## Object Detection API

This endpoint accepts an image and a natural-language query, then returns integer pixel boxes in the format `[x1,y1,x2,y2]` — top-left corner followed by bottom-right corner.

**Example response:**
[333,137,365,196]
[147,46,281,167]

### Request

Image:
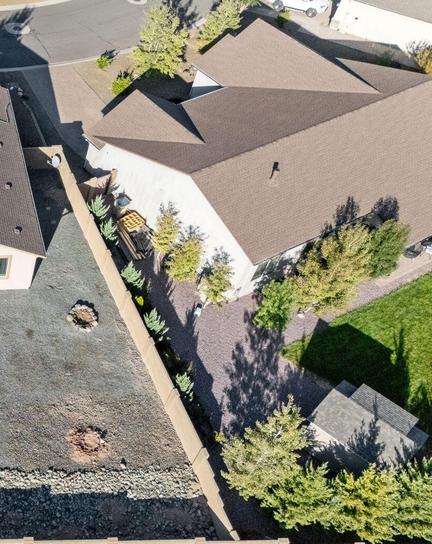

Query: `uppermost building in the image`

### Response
[329,0,432,52]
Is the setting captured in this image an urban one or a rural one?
urban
